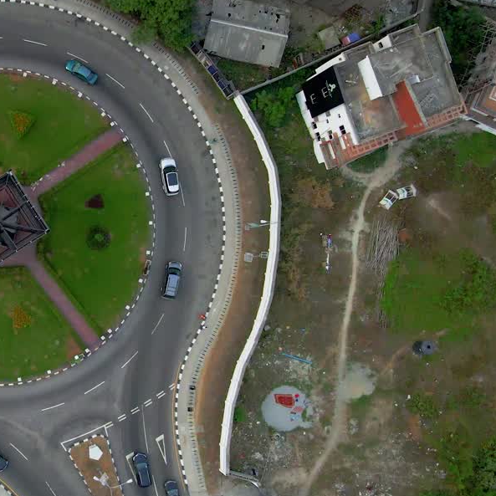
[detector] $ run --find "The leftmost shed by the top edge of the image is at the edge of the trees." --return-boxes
[199,0,290,72]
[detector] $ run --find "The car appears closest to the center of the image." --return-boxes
[161,262,183,300]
